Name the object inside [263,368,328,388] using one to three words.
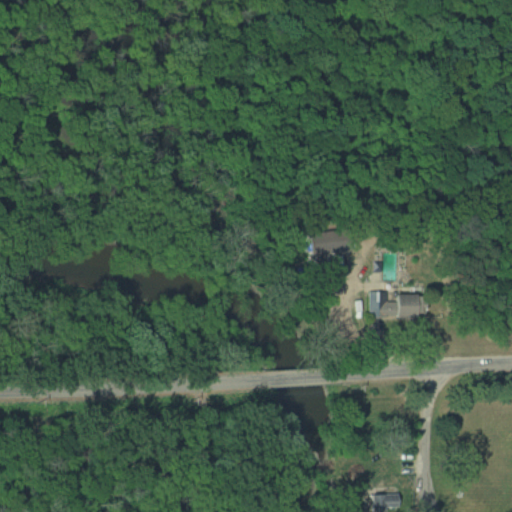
bridge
